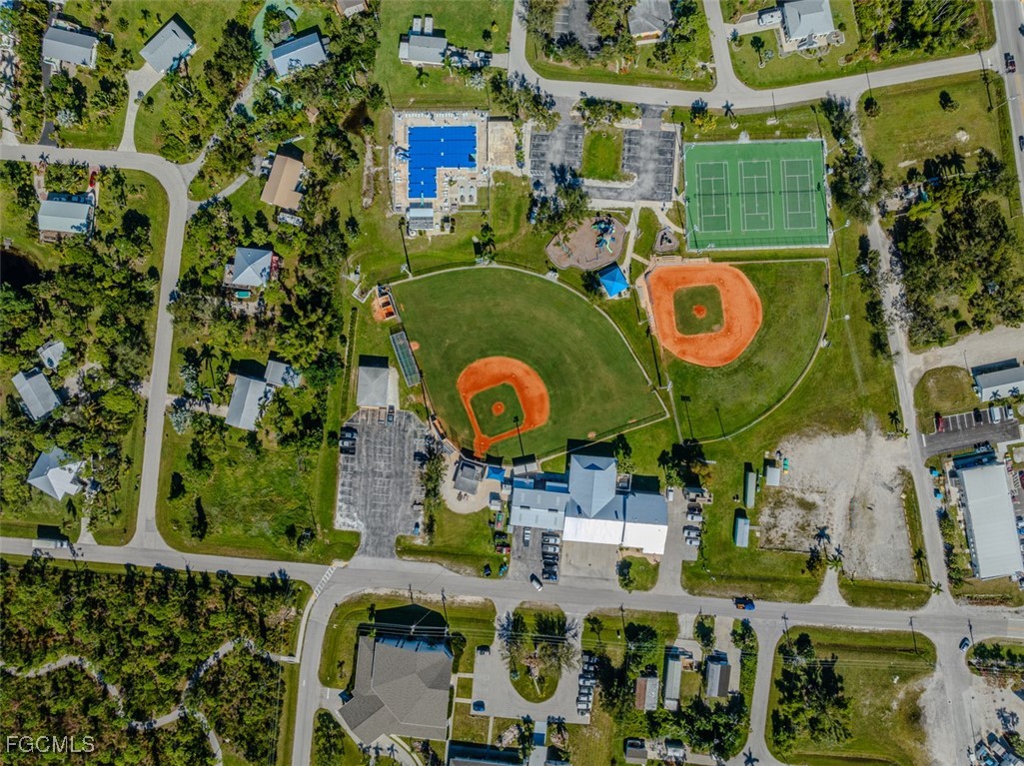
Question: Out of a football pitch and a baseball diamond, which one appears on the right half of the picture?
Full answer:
The feature located on the right half of the picture is a baseball diamond.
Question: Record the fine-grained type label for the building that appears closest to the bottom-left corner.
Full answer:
From above, the building that appears closest to the bottom-left corner can be identified as a home.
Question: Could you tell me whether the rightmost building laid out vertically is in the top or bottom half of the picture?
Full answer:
The rightmost building laid out vertically is in the bottom half of the image.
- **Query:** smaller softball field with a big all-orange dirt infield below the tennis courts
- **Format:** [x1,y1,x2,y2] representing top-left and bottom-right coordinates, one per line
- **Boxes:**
[650,260,829,444]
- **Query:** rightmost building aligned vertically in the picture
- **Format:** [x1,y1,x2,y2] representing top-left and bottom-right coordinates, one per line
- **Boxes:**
[955,463,1024,580]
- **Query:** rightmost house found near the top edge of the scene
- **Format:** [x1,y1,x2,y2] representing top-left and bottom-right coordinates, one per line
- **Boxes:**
[783,0,834,42]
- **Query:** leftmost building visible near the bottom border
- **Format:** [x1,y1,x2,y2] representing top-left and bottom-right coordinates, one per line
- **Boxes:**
[339,634,452,745]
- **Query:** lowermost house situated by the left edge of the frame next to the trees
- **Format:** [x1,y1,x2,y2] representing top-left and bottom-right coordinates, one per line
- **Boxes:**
[28,448,91,501]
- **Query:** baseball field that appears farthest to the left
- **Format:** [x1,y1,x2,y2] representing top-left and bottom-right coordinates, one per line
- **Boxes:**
[391,267,665,463]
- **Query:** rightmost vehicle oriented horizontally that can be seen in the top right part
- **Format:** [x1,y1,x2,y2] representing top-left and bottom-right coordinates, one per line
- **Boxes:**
[758,8,783,21]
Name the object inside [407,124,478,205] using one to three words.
swimming pool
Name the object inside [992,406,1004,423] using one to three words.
vehicle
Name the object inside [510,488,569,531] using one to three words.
building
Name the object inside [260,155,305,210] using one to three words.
house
